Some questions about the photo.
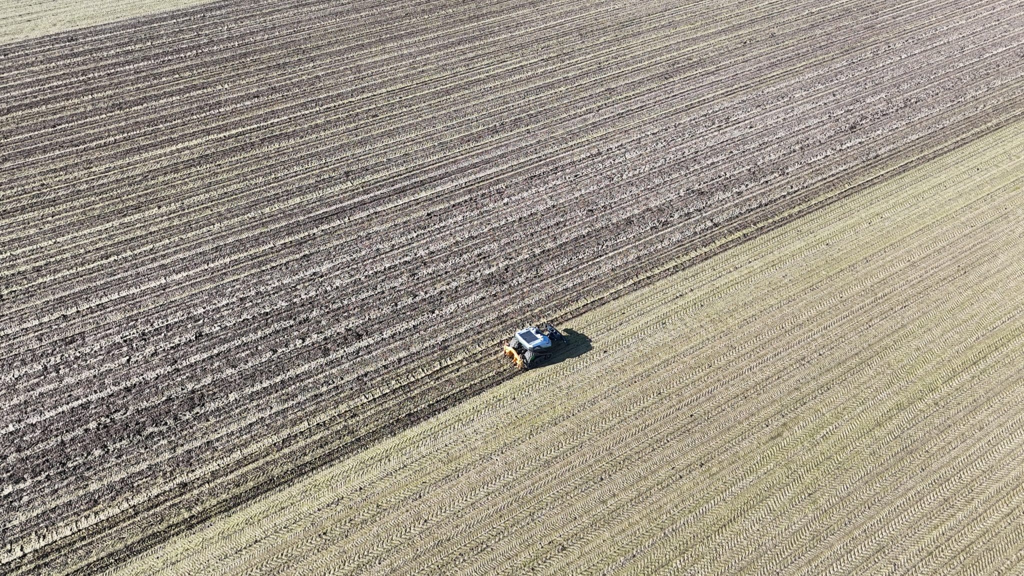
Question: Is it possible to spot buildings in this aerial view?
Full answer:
No, no building can be seen from above.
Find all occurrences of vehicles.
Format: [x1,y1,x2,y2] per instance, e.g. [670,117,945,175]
[510,321,568,369]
